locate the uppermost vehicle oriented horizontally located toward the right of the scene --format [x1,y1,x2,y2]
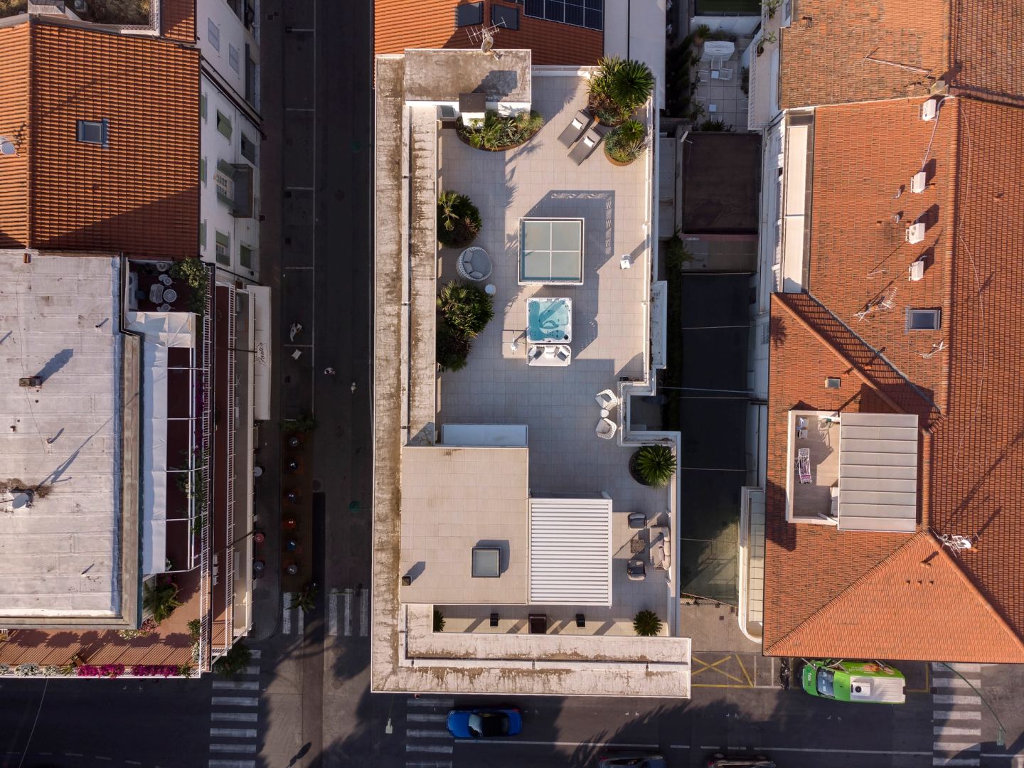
[798,661,907,706]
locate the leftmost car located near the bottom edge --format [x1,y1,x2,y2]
[449,706,520,743]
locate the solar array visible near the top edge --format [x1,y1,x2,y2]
[523,0,597,26]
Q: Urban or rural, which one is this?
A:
urban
